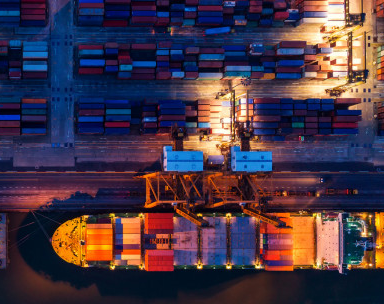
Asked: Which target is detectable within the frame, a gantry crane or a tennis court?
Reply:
gantry crane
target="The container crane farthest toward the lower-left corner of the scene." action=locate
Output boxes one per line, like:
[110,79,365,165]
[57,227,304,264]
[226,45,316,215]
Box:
[132,126,211,226]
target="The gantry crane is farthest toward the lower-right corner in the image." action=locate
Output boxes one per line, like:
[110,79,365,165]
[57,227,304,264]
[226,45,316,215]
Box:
[190,126,291,226]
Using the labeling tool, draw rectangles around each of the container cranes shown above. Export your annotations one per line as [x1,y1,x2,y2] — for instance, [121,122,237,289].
[132,126,211,226]
[314,29,367,96]
[211,87,249,148]
[190,126,291,226]
[315,0,367,42]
